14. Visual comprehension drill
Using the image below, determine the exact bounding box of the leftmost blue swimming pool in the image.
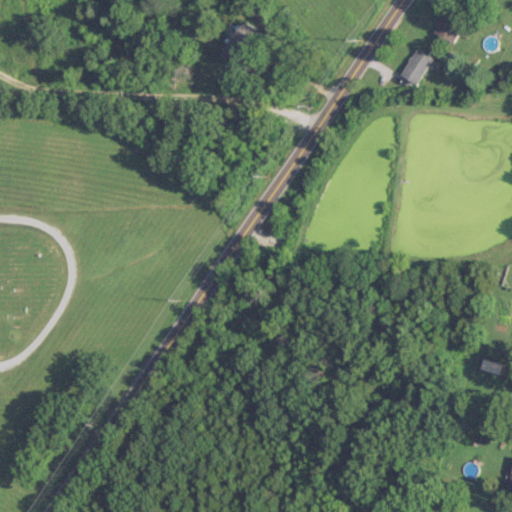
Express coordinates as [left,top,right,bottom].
[464,459,480,478]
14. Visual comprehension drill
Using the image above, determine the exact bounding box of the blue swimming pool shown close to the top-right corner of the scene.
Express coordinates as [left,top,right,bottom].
[482,36,502,52]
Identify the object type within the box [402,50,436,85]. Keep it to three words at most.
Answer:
house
